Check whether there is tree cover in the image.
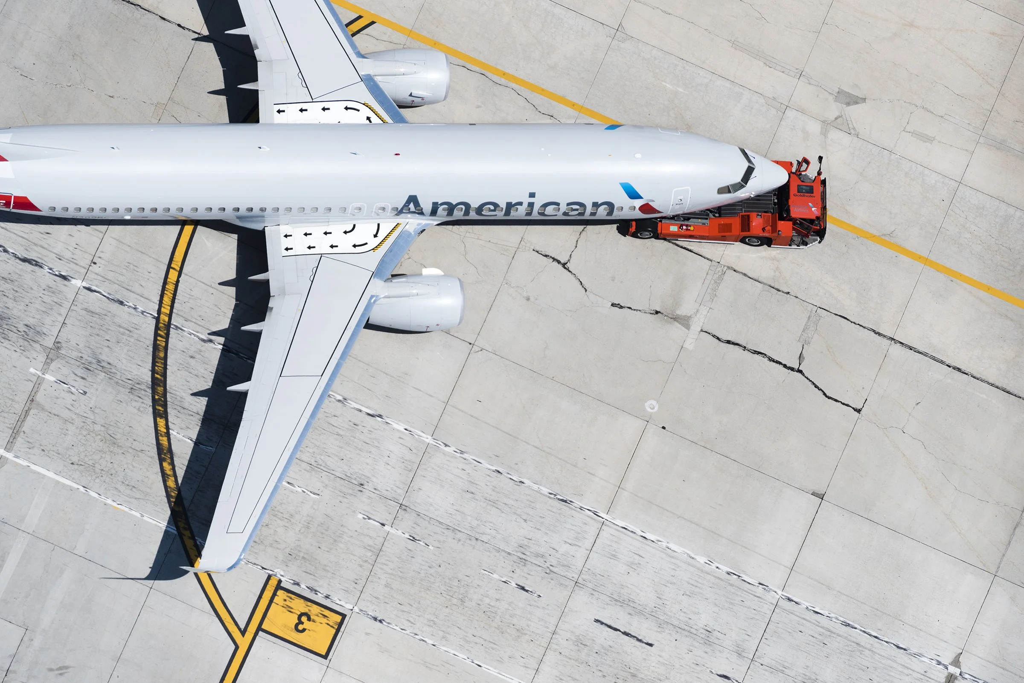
No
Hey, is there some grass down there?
No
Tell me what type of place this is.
airport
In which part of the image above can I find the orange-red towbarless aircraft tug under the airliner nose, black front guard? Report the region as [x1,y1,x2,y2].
[616,152,827,247]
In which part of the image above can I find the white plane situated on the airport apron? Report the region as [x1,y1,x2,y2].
[0,0,786,570]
